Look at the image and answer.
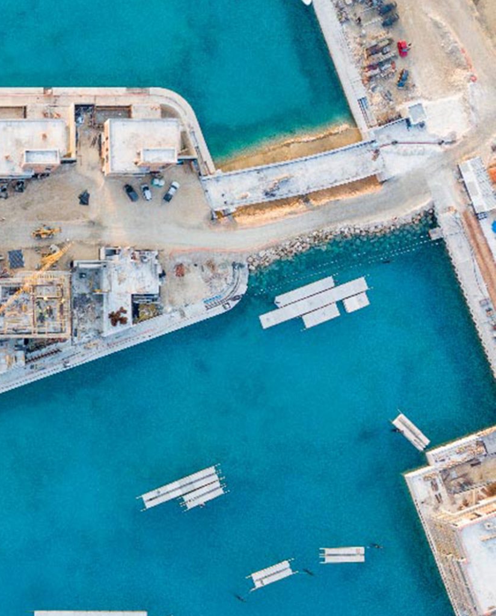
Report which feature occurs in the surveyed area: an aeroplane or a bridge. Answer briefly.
bridge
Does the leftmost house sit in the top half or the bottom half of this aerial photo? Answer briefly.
top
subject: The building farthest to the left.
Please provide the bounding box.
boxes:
[0,105,67,181]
